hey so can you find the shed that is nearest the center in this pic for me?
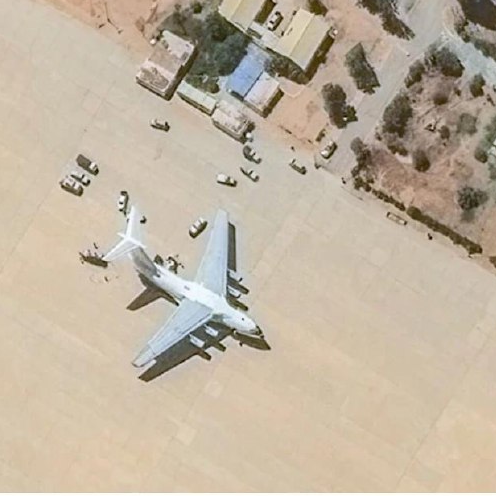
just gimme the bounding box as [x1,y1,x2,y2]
[212,99,248,139]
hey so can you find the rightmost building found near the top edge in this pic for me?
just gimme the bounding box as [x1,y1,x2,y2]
[276,9,330,73]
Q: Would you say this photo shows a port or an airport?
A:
airport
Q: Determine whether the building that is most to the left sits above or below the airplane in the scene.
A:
above it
